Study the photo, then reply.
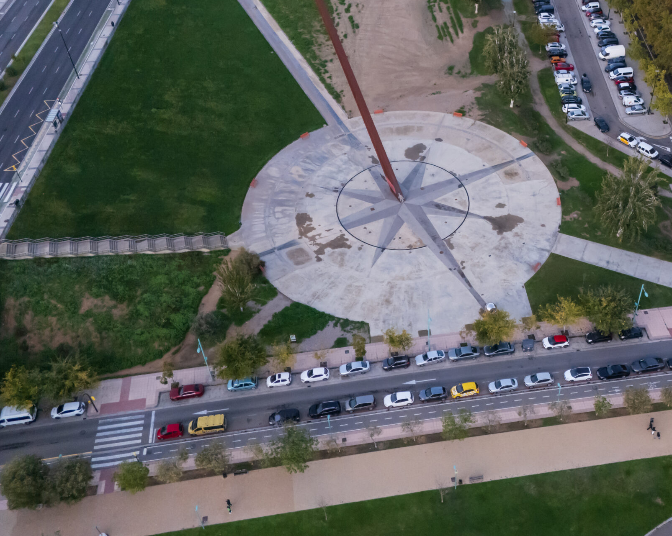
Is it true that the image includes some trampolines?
No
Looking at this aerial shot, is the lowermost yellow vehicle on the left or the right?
left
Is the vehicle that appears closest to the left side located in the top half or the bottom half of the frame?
bottom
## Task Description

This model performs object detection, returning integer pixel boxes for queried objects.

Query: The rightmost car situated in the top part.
[656,154,672,169]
